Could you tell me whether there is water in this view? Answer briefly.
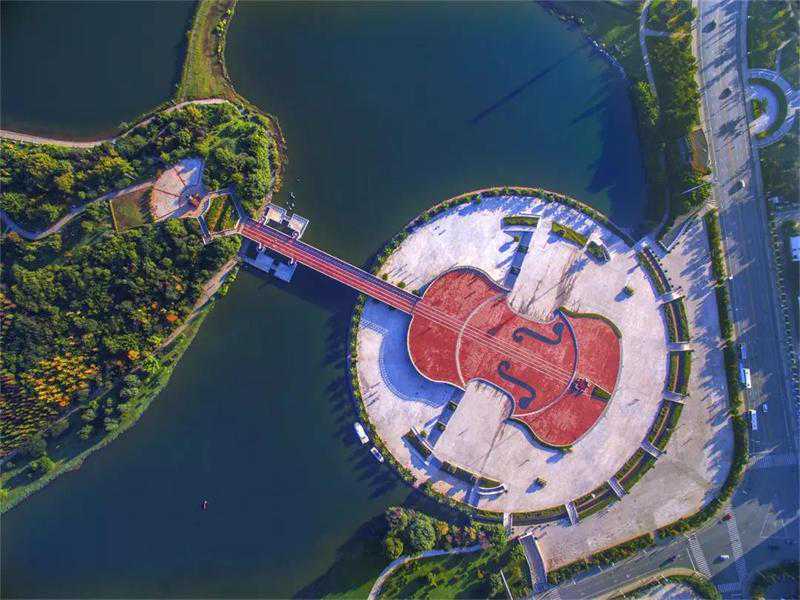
Yes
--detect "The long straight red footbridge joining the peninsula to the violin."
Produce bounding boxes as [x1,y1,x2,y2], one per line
[238,217,418,312]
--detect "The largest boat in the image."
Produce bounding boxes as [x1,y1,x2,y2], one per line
[354,423,367,445]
